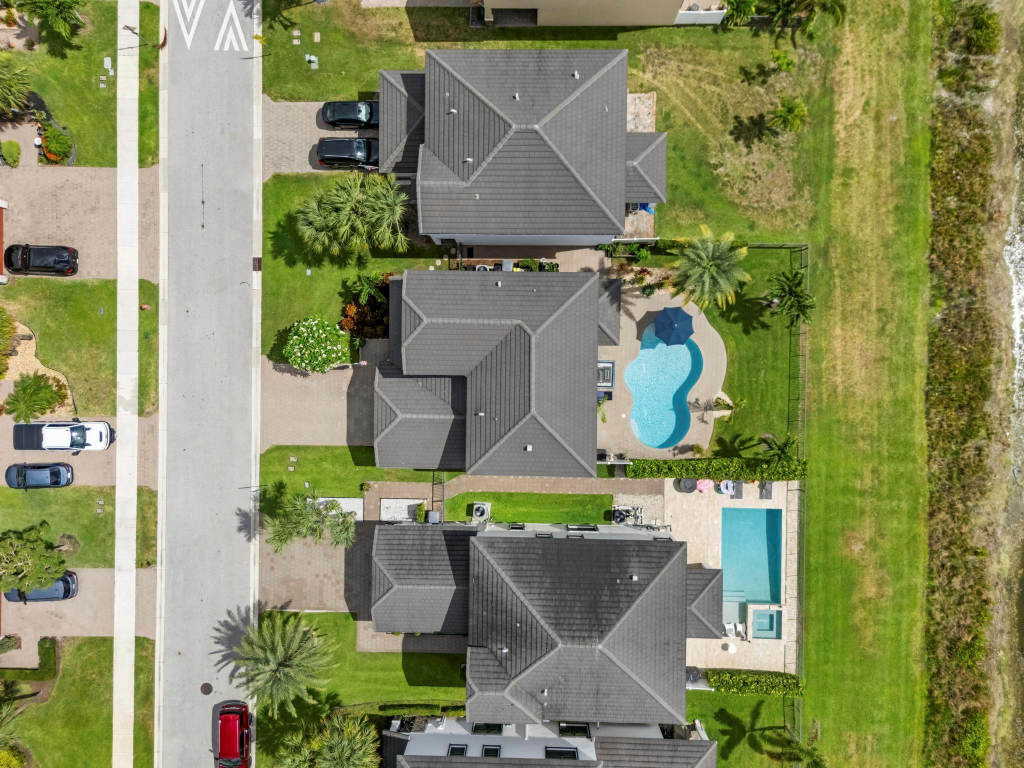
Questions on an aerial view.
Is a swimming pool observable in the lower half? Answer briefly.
Yes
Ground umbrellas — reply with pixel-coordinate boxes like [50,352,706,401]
[652,305,695,348]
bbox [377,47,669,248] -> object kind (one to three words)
house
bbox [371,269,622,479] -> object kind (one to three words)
house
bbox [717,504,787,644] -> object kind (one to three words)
swimming pool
